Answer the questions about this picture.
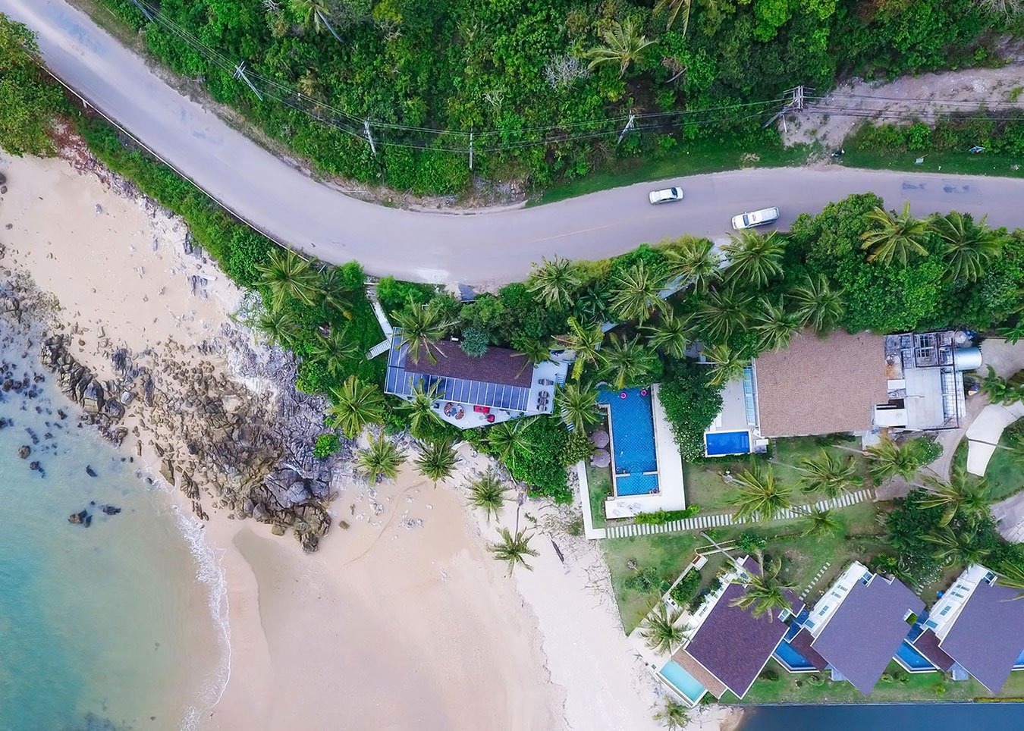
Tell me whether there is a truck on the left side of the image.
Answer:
No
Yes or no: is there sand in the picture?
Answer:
Yes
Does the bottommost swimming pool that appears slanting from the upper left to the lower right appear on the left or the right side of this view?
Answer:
right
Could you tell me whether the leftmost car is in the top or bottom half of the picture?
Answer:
top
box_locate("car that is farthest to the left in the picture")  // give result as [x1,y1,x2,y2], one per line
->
[646,185,685,206]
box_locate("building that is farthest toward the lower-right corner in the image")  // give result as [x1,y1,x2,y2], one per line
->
[906,562,1024,698]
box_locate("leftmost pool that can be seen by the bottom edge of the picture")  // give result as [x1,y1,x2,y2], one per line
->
[657,656,708,707]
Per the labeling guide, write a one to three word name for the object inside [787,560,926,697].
house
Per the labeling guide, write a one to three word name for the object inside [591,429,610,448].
umbrella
